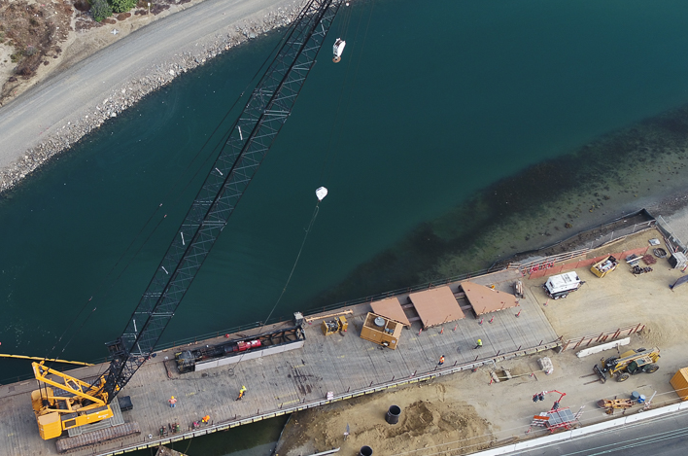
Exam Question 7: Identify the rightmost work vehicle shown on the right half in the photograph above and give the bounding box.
[584,345,664,384]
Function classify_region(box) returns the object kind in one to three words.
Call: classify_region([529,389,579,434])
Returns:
trailer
